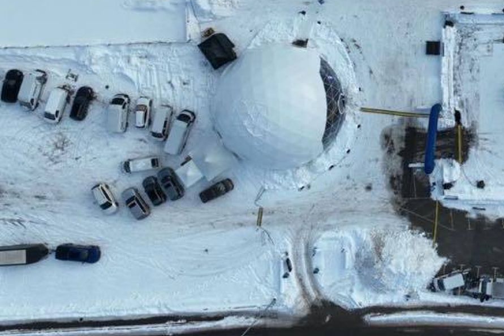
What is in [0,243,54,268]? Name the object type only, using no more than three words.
trailer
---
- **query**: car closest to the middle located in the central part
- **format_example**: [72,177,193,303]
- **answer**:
[198,177,237,202]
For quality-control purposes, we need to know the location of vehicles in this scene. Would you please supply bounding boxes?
[140,173,170,207]
[158,164,188,201]
[135,96,155,128]
[123,184,154,220]
[125,154,162,174]
[106,93,134,134]
[160,106,199,157]
[198,177,237,202]
[91,180,122,215]
[16,69,49,109]
[434,267,470,291]
[0,68,28,104]
[151,104,176,140]
[53,241,103,265]
[70,85,99,122]
[45,84,75,124]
